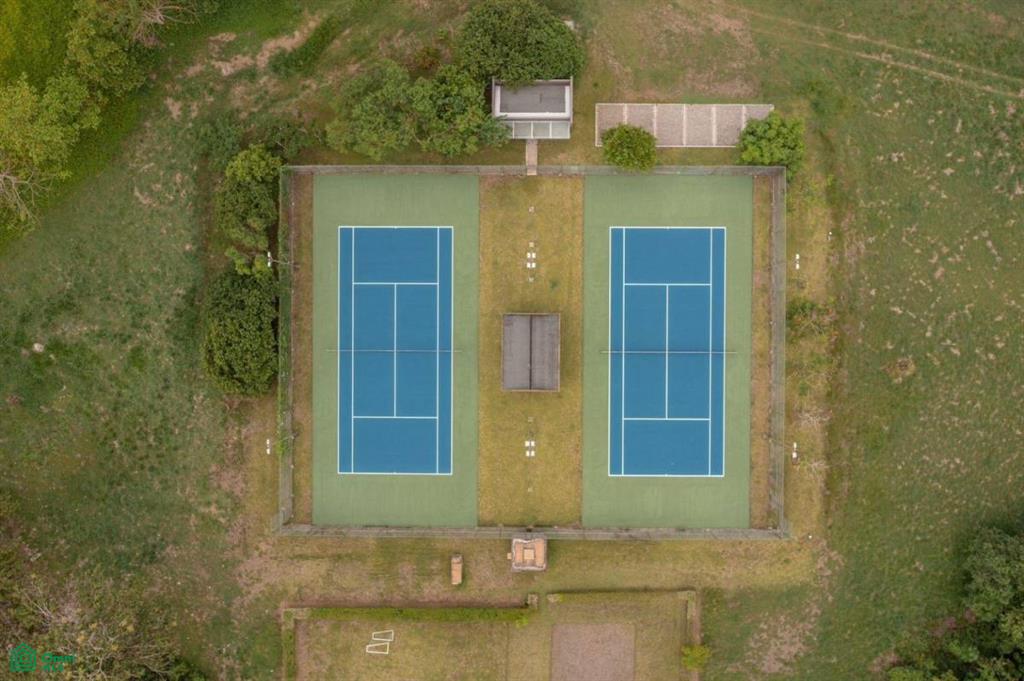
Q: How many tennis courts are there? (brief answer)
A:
2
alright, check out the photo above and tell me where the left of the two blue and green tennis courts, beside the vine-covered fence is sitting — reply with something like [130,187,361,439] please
[312,174,479,526]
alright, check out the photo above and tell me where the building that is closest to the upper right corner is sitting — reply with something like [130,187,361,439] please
[492,76,572,139]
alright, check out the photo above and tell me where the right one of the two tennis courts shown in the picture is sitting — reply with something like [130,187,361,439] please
[582,174,753,528]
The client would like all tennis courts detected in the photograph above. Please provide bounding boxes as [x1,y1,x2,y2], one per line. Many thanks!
[312,174,479,526]
[582,174,753,528]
